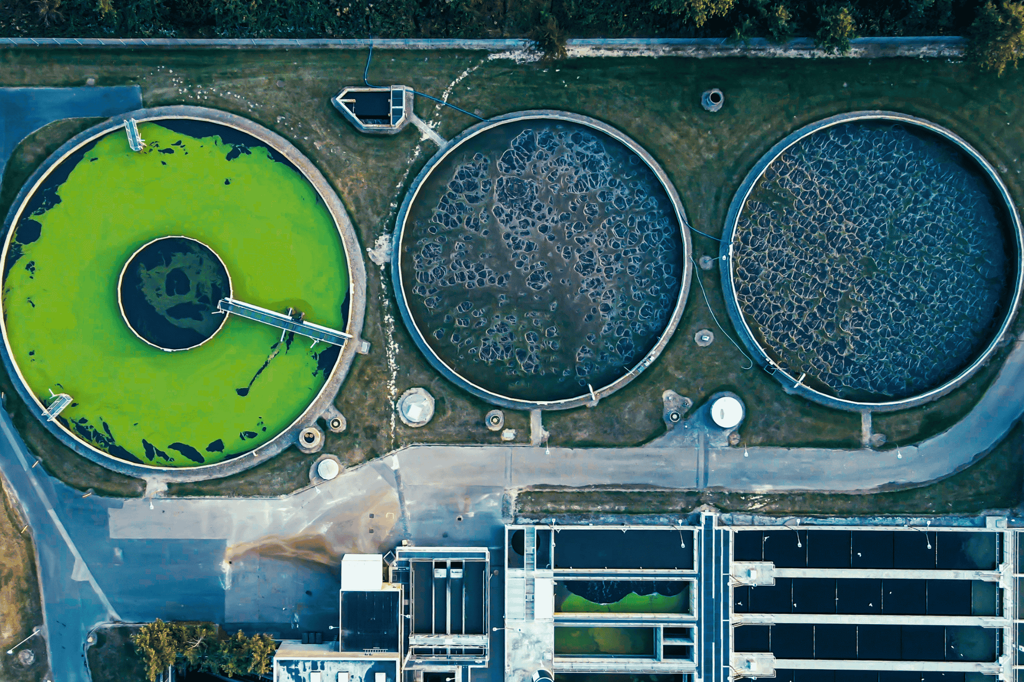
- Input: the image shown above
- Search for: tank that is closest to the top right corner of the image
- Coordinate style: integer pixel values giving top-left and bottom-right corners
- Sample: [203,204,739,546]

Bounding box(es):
[720,108,1024,412]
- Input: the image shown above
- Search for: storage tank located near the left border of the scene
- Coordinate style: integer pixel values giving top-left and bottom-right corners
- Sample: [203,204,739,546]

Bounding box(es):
[0,106,367,479]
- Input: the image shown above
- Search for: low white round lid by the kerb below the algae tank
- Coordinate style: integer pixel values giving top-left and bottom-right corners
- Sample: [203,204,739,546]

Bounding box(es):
[309,454,345,485]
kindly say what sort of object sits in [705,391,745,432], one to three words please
storage tank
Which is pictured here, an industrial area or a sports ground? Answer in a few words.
industrial area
